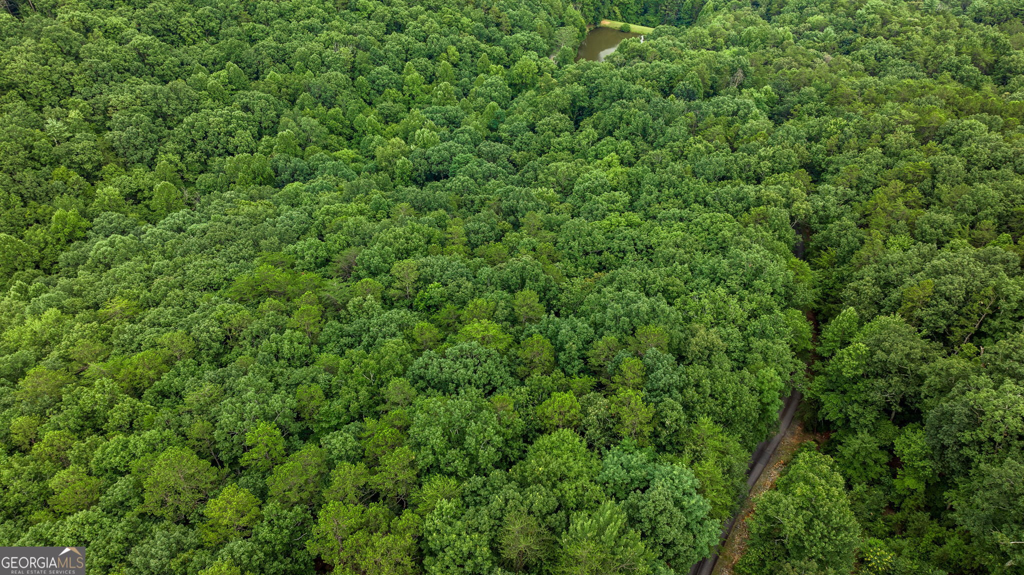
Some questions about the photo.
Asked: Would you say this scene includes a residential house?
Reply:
No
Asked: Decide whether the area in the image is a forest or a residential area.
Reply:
forest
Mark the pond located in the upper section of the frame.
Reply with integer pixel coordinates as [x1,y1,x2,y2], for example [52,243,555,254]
[574,27,656,73]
